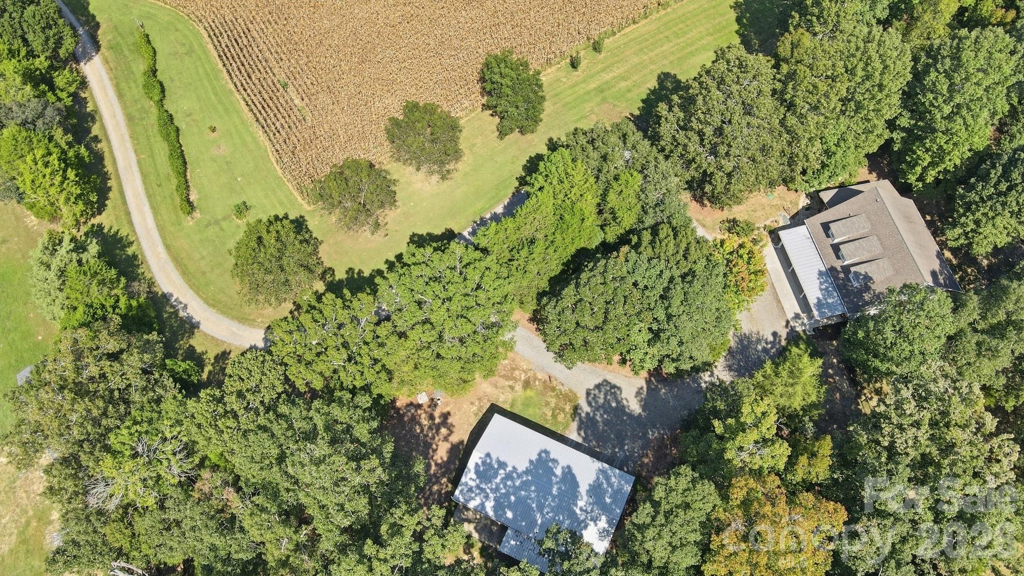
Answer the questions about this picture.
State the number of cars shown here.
none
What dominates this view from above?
trees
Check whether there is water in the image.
No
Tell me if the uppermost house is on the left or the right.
right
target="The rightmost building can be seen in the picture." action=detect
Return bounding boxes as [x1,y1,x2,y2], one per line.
[769,176,962,336]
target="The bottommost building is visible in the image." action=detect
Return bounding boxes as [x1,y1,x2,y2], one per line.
[452,413,635,570]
